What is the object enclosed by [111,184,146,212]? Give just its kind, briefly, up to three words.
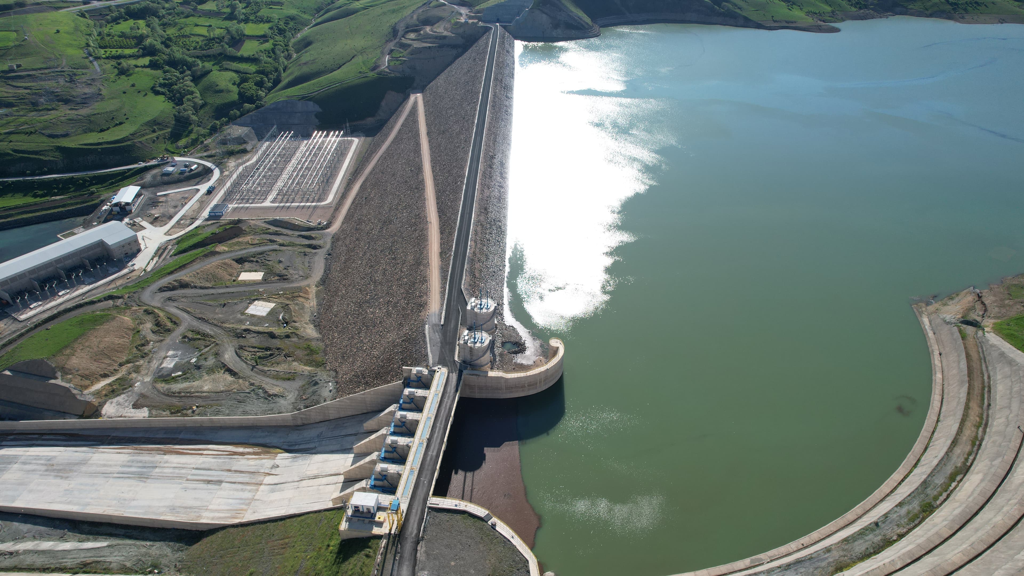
shed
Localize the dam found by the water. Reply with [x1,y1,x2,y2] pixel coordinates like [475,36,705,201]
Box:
[313,25,542,399]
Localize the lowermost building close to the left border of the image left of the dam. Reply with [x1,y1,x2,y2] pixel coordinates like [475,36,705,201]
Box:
[0,221,145,299]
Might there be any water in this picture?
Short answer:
Yes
